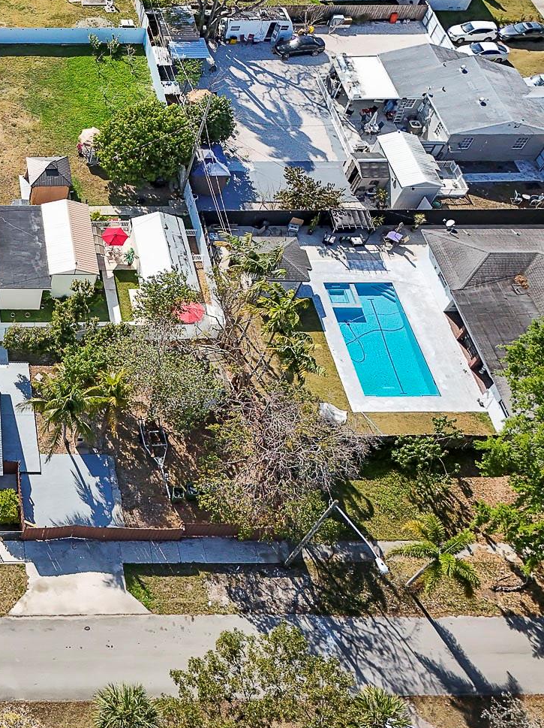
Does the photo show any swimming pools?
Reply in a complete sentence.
Yes, a swimming pool appears in the view.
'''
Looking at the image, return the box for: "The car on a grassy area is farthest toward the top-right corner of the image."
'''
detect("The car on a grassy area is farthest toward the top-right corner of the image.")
[498,19,544,43]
